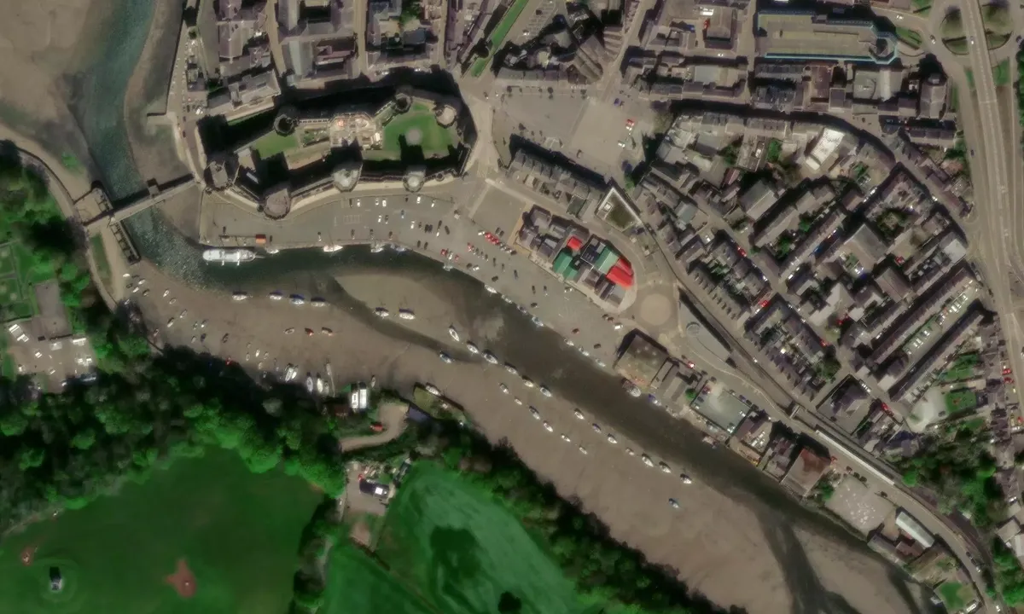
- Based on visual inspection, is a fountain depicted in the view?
No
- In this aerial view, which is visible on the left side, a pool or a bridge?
bridge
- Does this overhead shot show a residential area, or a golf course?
residential area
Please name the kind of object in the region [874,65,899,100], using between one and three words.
building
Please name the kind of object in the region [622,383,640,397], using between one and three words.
boat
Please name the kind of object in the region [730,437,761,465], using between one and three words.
shed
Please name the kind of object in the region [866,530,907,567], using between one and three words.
house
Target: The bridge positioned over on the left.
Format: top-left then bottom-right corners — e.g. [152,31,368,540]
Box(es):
[84,179,198,230]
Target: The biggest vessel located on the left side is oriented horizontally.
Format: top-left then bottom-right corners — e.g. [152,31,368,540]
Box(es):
[203,252,254,268]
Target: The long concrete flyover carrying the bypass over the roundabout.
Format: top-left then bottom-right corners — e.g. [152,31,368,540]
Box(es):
[962,0,1018,240]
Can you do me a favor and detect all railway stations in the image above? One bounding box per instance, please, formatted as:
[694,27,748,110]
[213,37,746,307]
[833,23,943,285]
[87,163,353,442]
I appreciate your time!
[807,427,900,496]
